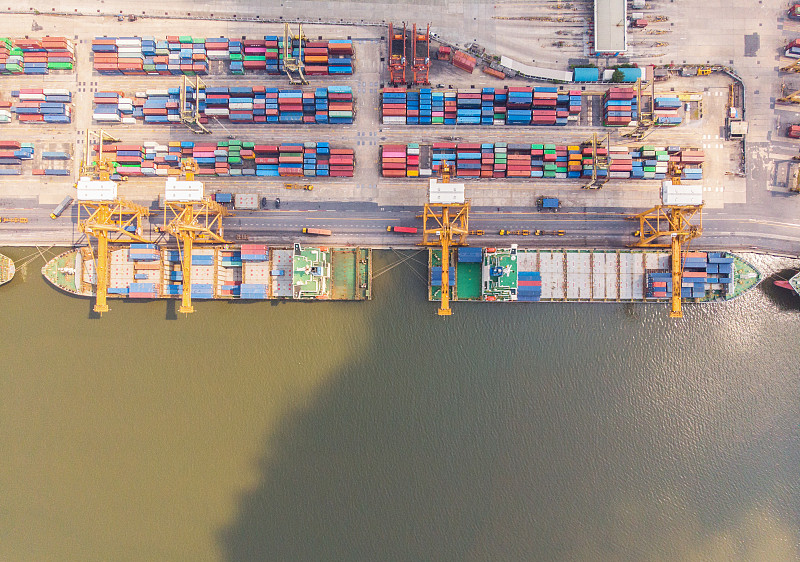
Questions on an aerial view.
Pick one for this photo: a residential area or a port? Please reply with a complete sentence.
This image shows a port.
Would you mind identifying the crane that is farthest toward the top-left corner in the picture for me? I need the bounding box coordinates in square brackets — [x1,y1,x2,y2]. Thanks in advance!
[81,123,125,181]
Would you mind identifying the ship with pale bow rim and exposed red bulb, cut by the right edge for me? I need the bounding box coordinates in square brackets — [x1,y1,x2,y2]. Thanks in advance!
[774,268,800,295]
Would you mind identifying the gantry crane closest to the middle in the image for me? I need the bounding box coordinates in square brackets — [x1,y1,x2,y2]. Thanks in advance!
[414,160,477,318]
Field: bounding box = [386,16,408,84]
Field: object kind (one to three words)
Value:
crane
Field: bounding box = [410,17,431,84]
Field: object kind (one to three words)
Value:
crane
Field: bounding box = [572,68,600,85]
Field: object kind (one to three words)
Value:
shed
